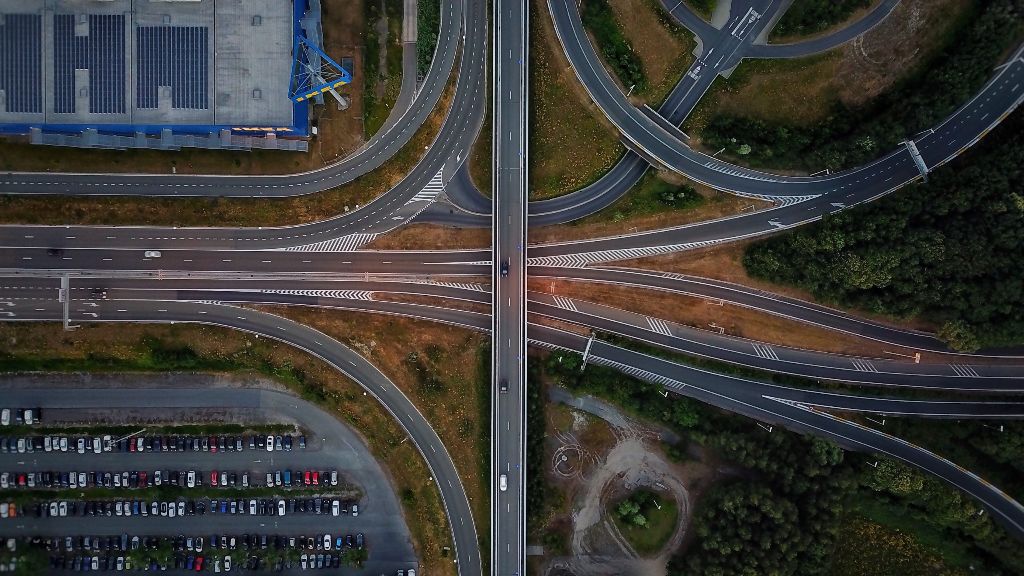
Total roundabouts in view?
none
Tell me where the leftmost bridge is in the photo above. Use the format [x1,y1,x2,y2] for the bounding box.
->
[491,0,528,576]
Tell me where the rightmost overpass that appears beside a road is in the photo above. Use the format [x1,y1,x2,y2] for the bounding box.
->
[618,104,691,170]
